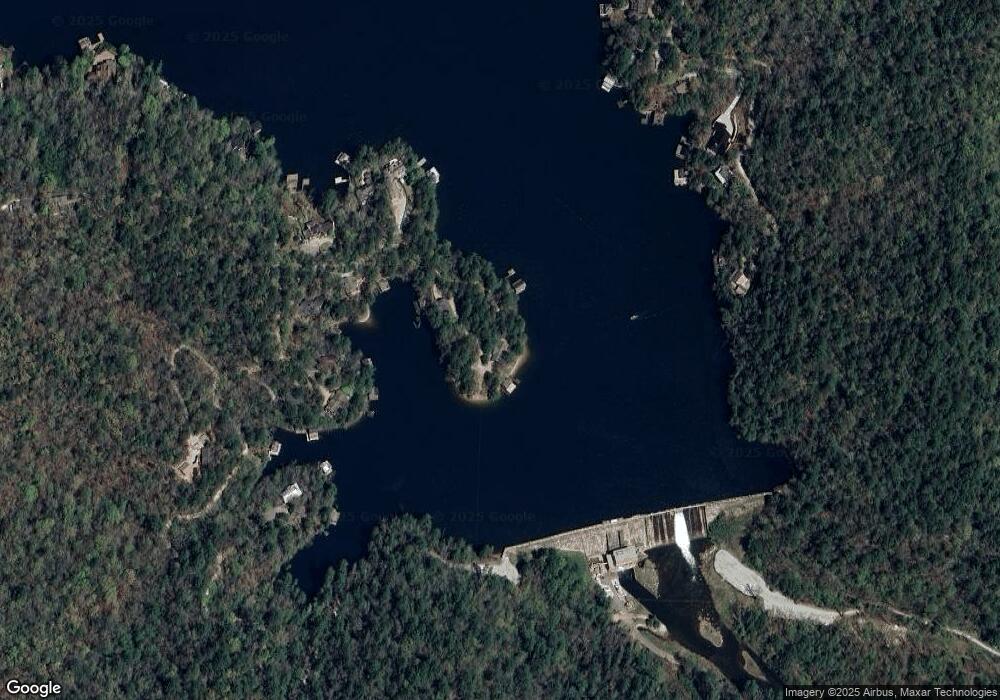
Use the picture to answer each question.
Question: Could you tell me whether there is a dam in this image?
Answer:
Yes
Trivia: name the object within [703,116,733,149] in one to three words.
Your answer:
house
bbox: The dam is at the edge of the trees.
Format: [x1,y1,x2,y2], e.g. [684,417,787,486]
[500,489,777,562]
